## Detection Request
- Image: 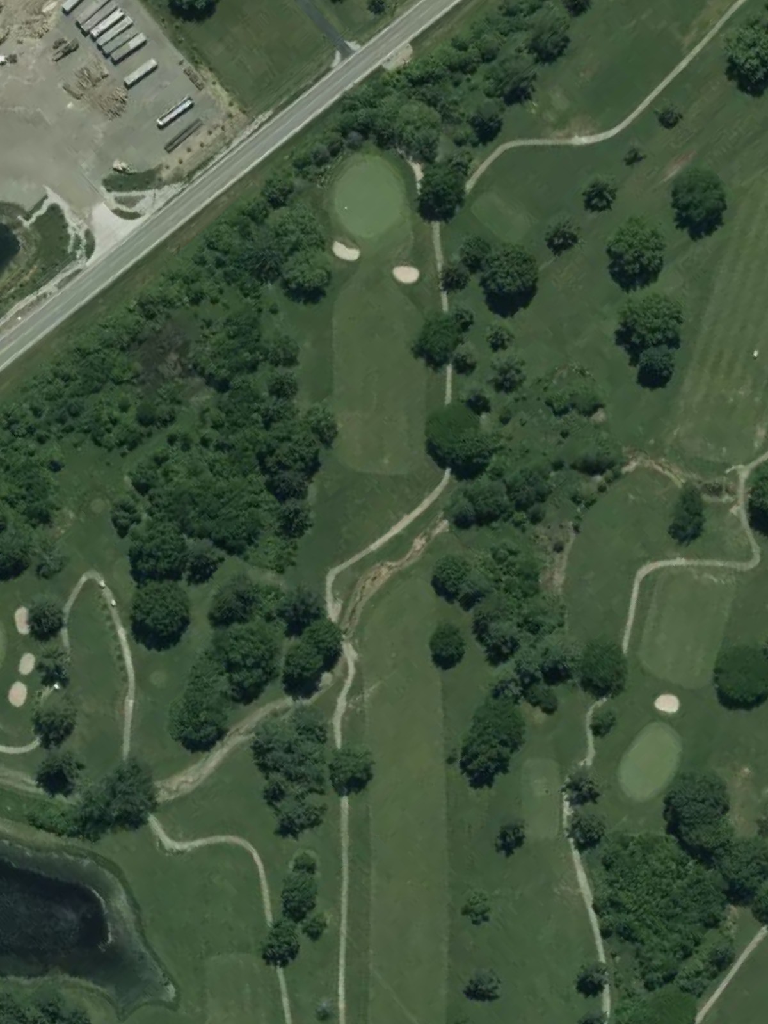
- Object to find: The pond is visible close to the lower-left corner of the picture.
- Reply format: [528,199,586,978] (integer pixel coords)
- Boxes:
[0,840,175,1013]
